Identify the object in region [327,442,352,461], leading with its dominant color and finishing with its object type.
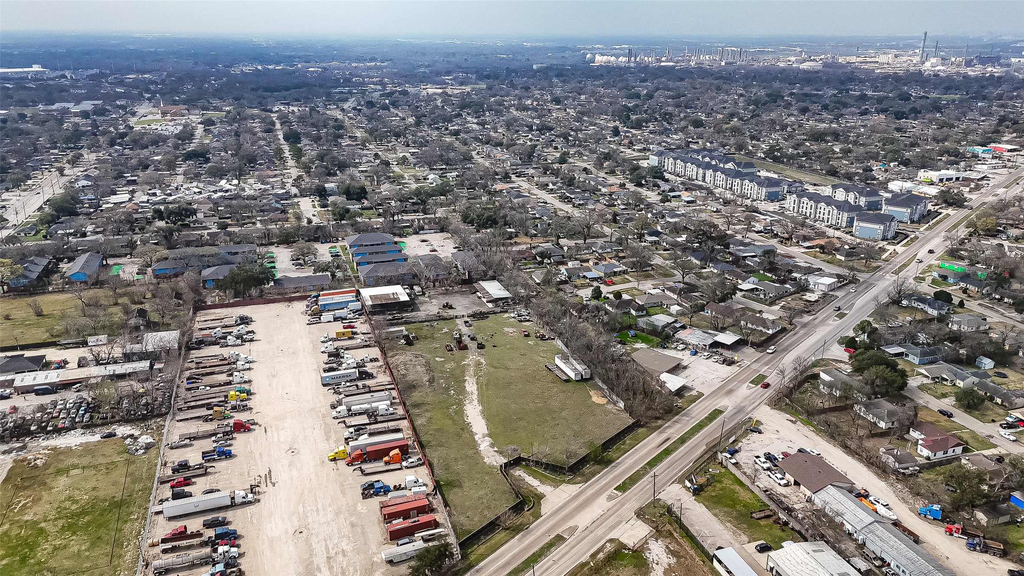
yellow vehicle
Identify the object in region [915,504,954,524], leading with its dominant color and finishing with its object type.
blue vehicle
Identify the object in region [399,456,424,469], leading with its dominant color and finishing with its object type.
gray vehicle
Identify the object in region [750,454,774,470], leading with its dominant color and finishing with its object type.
white vehicle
